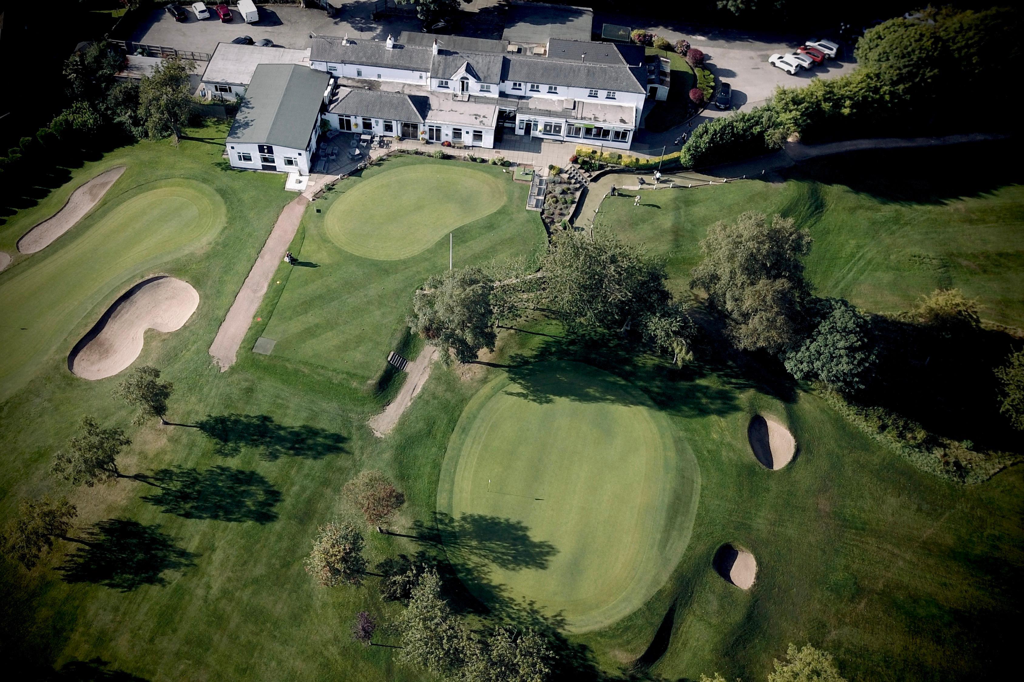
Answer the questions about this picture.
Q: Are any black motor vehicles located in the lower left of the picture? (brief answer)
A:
No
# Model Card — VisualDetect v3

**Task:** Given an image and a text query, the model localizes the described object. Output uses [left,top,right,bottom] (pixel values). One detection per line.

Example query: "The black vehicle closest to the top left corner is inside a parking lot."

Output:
[164,3,190,25]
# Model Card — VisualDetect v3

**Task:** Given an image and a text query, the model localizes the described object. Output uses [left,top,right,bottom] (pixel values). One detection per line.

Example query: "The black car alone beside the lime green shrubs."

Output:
[714,80,733,109]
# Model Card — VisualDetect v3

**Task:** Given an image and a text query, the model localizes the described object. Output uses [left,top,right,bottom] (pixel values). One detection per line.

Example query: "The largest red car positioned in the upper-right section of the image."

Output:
[793,46,828,66]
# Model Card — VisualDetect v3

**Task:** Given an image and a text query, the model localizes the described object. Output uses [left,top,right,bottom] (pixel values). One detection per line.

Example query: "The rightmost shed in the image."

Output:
[646,41,671,98]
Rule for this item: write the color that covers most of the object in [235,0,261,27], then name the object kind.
white vehicle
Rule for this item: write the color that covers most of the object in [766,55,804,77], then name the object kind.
white car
